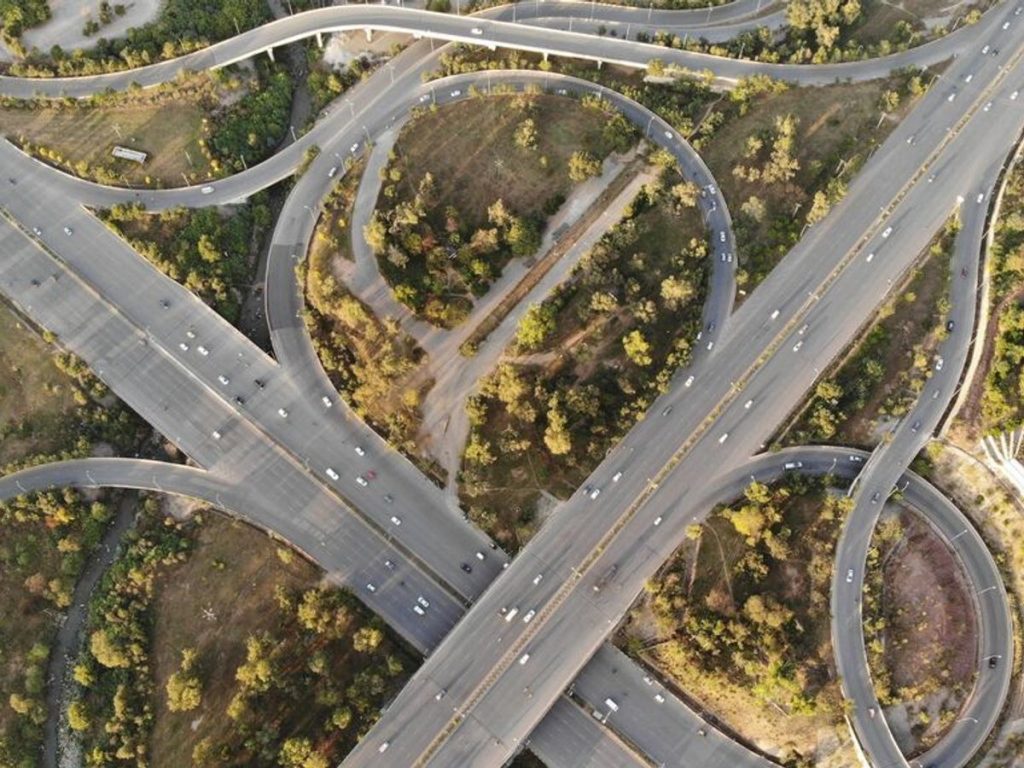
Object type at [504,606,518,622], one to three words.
vehicle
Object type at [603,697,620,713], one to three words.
vehicle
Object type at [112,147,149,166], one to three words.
shed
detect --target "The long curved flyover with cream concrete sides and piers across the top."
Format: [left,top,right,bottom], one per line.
[0,0,1018,101]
